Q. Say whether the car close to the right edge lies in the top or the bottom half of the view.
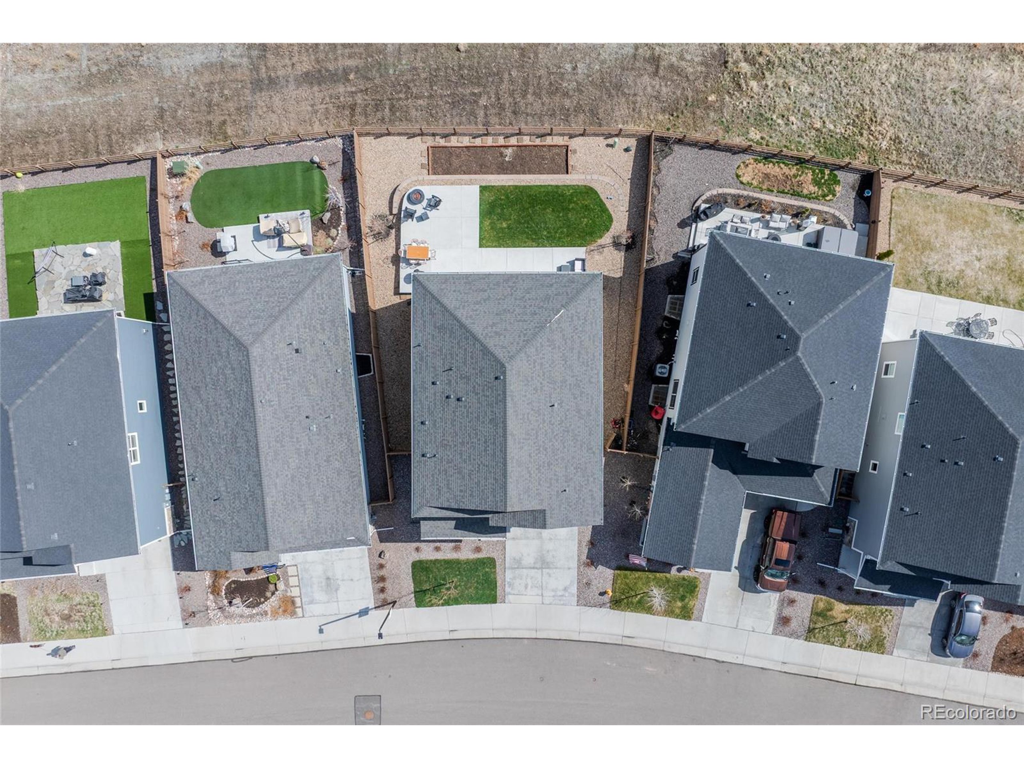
bottom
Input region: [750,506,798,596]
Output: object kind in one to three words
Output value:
truck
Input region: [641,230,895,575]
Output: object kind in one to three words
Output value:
house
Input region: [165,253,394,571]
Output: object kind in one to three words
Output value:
house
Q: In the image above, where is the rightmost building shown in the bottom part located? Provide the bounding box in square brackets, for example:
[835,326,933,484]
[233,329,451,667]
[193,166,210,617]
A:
[817,331,1024,605]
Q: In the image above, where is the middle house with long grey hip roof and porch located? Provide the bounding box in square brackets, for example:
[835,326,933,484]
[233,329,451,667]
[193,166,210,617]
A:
[410,272,605,540]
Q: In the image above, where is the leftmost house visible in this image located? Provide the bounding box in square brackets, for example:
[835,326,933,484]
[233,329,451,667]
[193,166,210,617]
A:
[0,308,186,581]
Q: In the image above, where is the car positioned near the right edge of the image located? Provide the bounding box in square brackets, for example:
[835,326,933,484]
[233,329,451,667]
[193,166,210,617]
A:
[941,593,982,660]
